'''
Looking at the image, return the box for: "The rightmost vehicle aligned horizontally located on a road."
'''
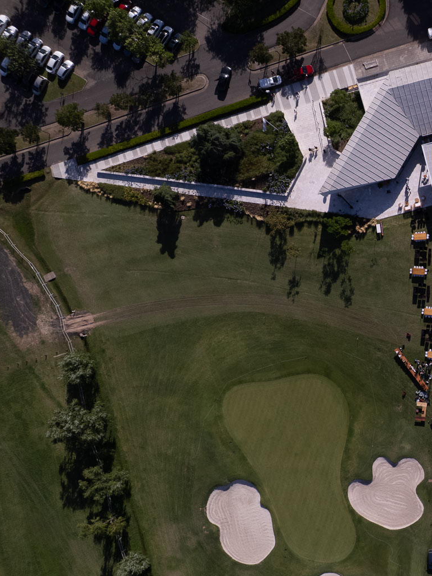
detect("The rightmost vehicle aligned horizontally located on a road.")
[288,65,317,82]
